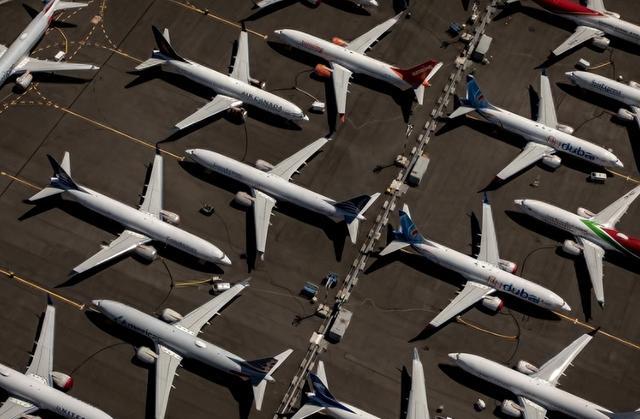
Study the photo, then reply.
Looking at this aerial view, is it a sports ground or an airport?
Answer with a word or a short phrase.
airport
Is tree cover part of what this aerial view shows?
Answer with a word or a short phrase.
No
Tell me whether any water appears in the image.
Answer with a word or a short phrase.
No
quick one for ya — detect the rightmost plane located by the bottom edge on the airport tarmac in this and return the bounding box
[448,327,640,419]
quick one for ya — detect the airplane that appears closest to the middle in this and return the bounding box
[186,130,381,261]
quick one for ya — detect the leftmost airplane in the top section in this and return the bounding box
[0,0,99,89]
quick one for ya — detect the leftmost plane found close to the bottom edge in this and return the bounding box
[0,293,119,419]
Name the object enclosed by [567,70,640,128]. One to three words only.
airplane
